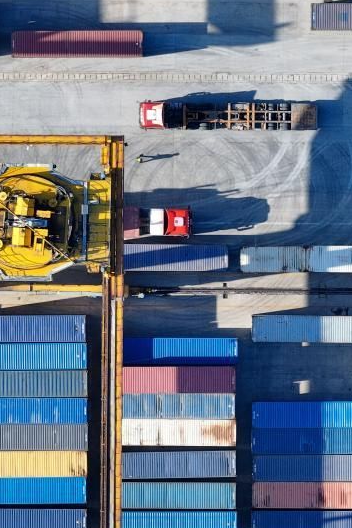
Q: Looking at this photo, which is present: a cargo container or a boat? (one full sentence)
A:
The one in the frame is a cargo container.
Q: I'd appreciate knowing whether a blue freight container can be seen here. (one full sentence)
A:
Yes, looking at the shot, I can spot a blue freight container.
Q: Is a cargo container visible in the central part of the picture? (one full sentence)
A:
Yes, a cargo container shows up in the central part of the picture.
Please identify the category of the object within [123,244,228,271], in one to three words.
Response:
shipping container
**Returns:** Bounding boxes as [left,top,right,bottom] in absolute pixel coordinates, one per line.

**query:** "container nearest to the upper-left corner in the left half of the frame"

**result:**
[12,30,143,57]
